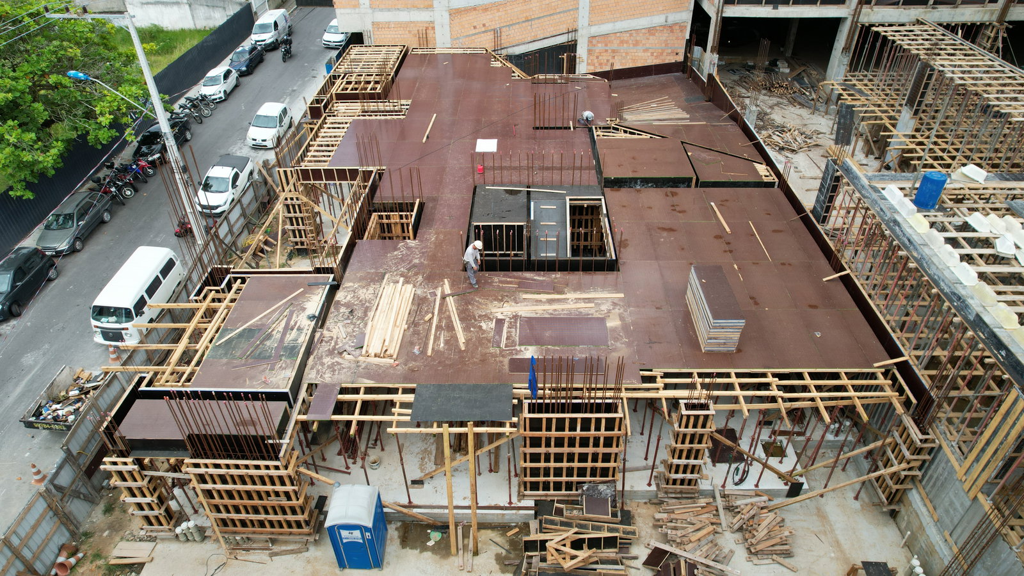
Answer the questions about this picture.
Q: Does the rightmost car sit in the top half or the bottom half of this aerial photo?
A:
top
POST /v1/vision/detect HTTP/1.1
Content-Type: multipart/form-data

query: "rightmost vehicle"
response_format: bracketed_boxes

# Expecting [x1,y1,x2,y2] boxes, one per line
[322,16,347,43]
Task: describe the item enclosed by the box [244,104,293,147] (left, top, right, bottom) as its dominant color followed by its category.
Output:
white car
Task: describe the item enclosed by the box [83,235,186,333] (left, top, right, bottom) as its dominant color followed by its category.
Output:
white van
